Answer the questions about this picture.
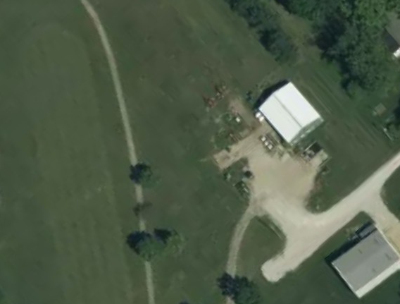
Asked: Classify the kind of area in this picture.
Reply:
golf course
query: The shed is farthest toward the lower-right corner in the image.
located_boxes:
[333,224,400,298]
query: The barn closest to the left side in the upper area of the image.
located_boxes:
[260,83,321,145]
